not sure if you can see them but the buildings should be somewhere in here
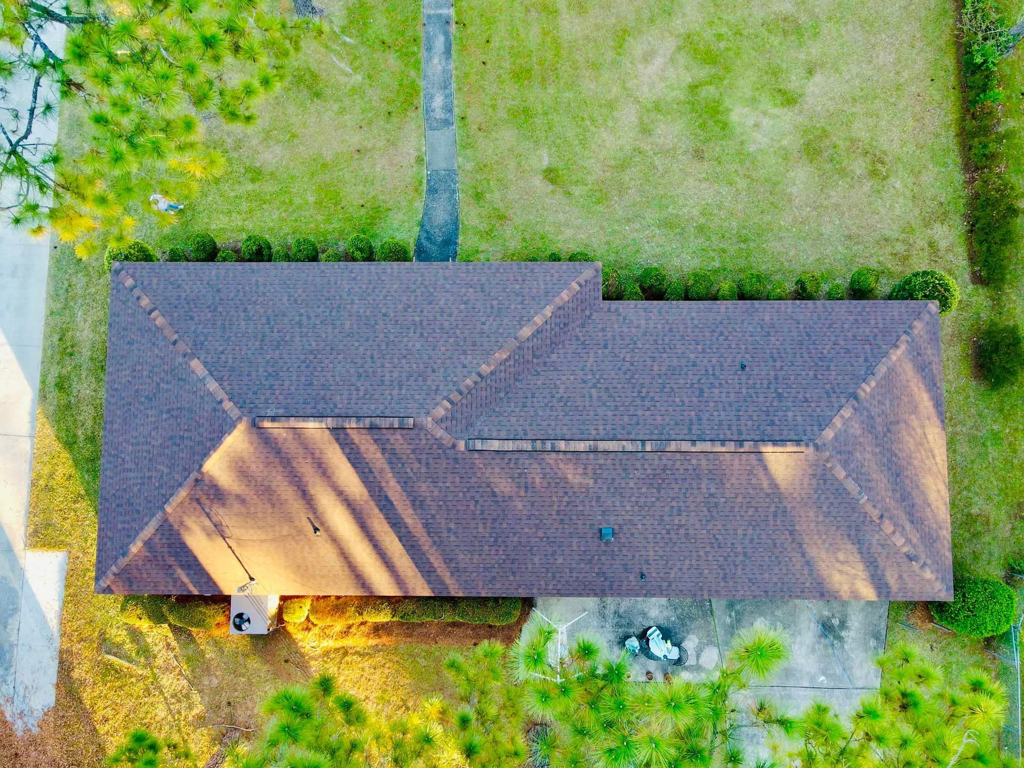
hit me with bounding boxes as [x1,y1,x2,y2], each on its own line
[92,259,955,602]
